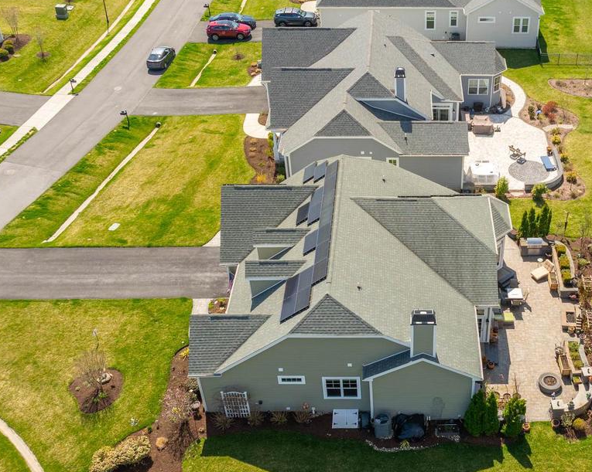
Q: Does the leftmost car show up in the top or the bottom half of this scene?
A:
top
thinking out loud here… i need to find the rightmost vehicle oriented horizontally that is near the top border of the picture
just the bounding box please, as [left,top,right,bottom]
[271,5,319,27]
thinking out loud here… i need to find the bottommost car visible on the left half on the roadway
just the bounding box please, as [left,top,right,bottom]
[140,46,177,72]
